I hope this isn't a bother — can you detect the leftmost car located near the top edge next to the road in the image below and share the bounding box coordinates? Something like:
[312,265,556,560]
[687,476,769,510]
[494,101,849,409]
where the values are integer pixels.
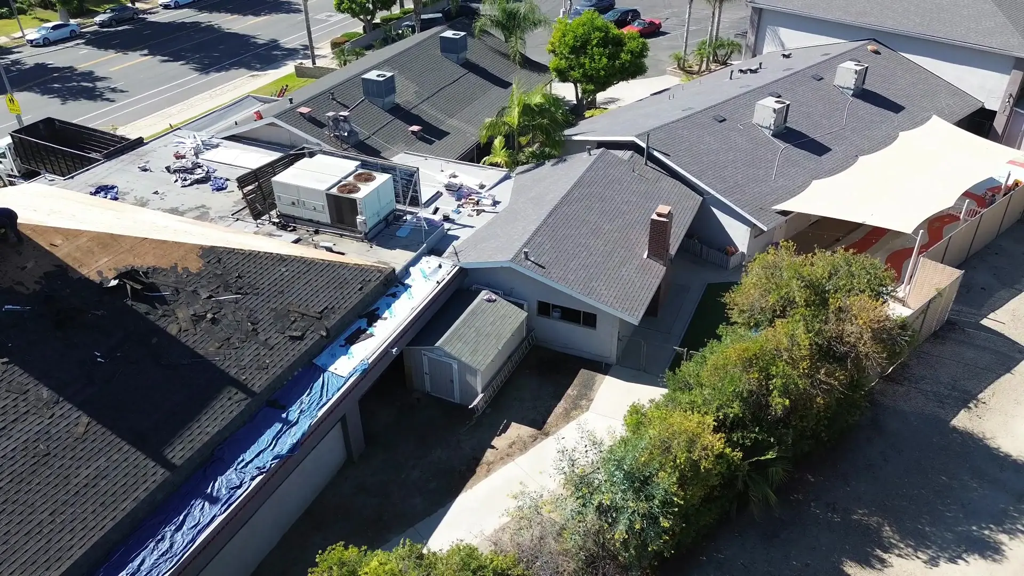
[21,21,80,47]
